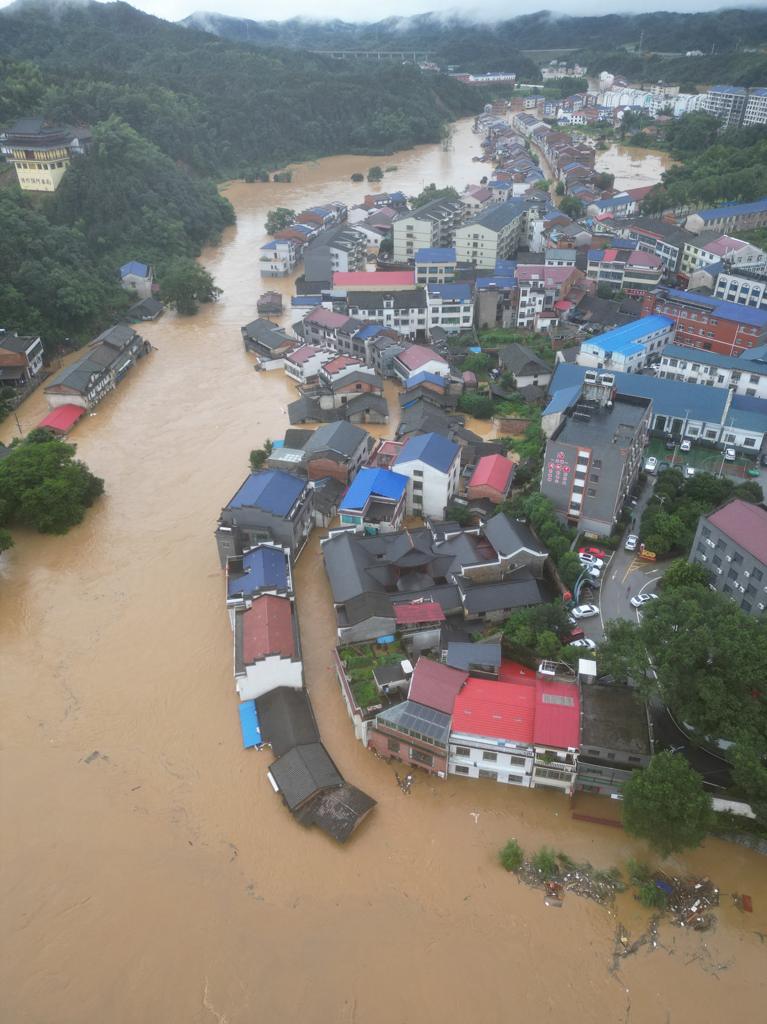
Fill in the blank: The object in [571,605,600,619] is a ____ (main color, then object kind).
white car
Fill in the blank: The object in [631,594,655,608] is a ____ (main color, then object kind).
white car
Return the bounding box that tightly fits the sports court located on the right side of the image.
[636,441,761,478]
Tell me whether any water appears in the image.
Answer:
Yes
